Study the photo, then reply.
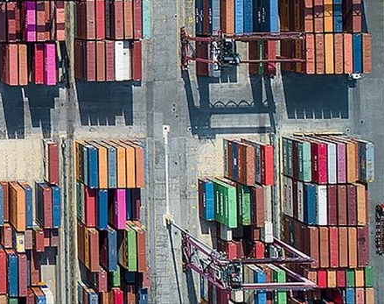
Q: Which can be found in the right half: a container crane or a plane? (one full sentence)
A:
Visible in the right half is a container crane.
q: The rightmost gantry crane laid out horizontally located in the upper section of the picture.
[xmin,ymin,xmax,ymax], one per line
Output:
[182,26,316,68]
